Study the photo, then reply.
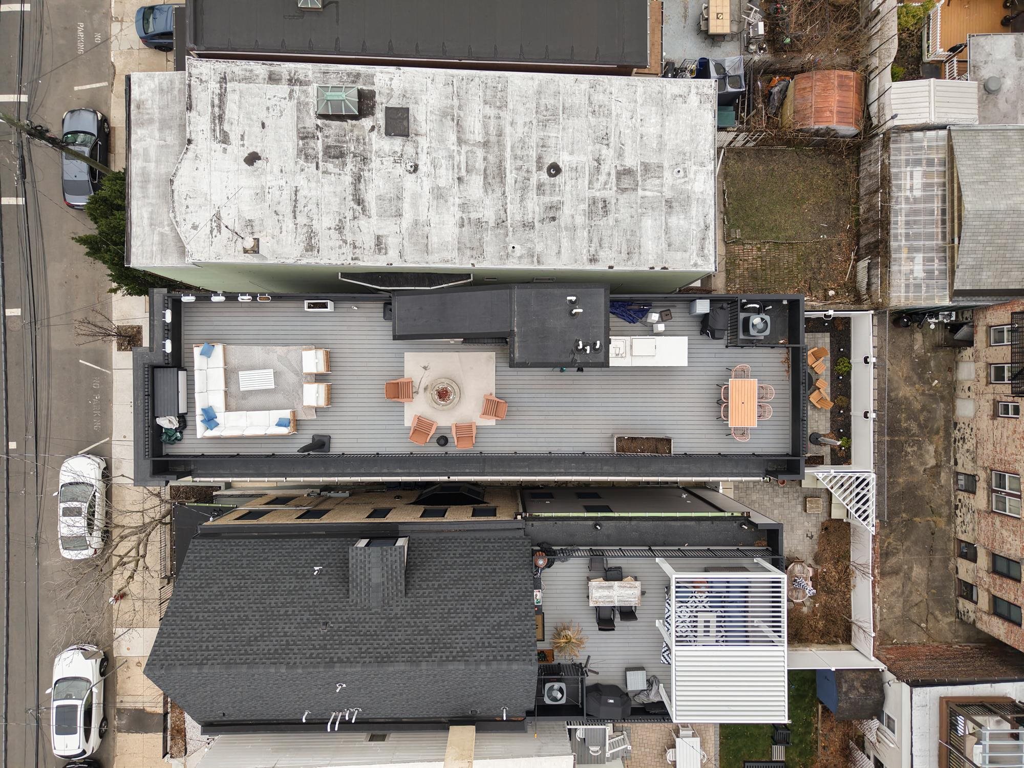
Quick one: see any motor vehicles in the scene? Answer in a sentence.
Yes, there is a motor vehicle in the image.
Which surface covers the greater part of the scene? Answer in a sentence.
The bulk of the photo consists of buildings.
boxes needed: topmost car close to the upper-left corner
[137,6,172,55]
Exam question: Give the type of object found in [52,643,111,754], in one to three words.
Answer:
car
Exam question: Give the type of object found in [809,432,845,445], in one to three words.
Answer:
umbrella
